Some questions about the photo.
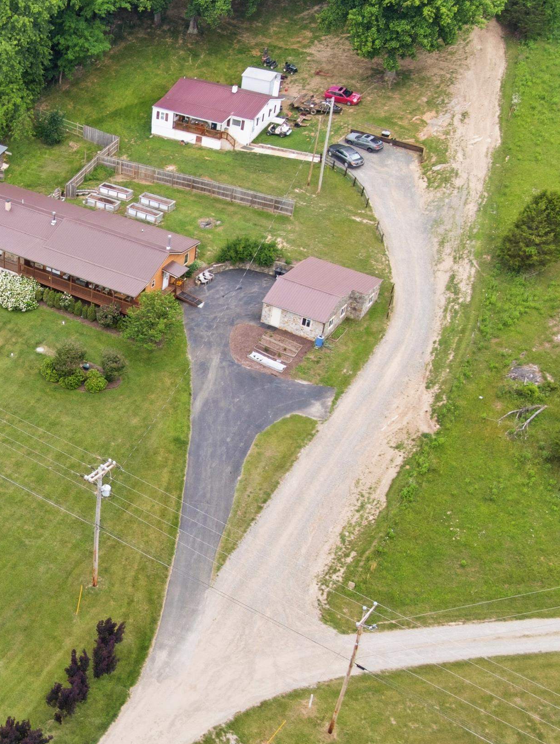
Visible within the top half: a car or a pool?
car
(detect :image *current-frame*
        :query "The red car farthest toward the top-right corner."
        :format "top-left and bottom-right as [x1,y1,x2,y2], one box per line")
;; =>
[321,85,359,105]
